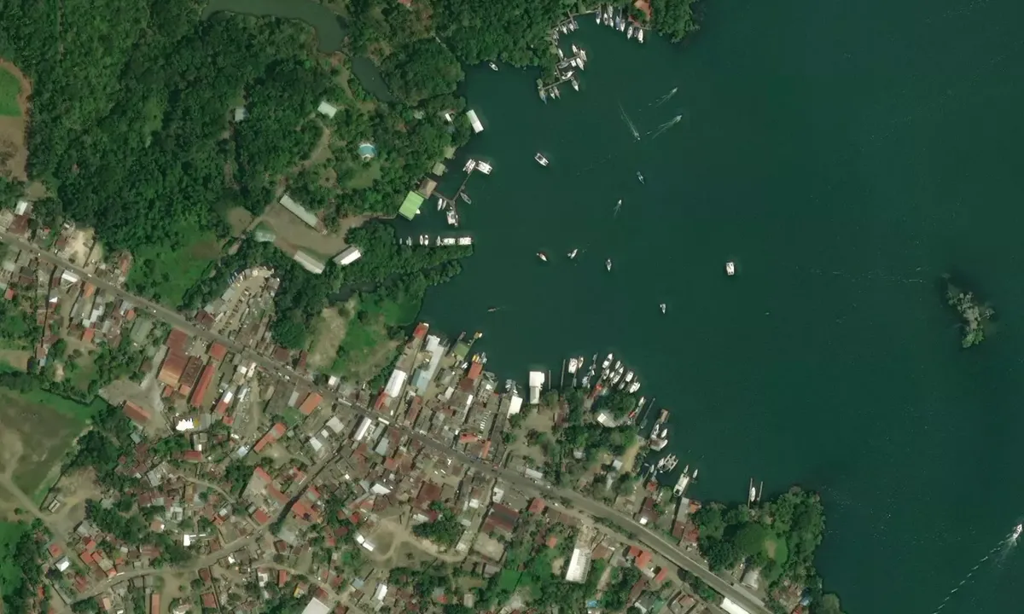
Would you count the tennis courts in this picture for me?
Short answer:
0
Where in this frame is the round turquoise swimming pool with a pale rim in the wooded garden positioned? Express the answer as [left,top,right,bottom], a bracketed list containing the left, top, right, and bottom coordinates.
[358,143,376,159]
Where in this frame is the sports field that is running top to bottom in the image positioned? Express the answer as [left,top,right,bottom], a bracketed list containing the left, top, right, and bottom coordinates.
[0,58,32,133]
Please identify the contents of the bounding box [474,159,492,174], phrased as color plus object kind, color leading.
white boat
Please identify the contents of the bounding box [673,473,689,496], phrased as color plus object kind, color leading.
white ship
